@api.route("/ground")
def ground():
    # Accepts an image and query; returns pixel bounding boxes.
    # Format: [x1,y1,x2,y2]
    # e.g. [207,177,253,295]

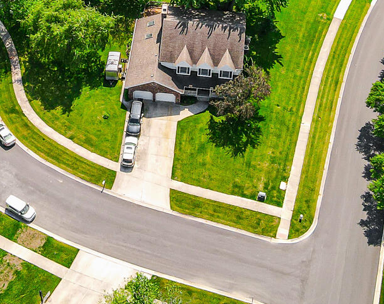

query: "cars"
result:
[5,194,36,221]
[0,123,18,148]
[126,104,143,136]
[119,137,138,169]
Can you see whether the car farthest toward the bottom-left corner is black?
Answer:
No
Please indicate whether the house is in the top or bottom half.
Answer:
top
